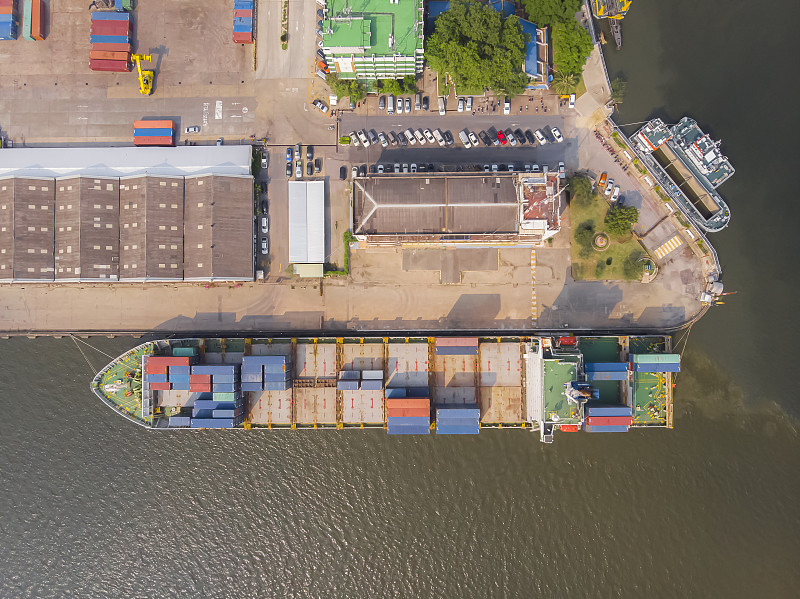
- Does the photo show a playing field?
No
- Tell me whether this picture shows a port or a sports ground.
port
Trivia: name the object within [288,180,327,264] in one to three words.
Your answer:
shed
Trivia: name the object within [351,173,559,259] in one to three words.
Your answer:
building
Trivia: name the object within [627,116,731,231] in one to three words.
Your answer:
ship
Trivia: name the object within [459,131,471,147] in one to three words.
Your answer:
vehicle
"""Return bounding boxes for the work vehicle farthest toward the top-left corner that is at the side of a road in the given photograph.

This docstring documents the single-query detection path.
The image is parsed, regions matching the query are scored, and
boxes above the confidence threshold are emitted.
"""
[131,53,157,94]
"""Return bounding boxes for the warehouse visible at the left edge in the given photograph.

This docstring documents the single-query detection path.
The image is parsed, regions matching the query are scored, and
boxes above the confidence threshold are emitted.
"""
[0,145,259,282]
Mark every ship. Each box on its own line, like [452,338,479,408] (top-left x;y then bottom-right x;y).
[672,115,736,187]
[88,334,677,444]
[594,0,633,19]
[627,116,731,231]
